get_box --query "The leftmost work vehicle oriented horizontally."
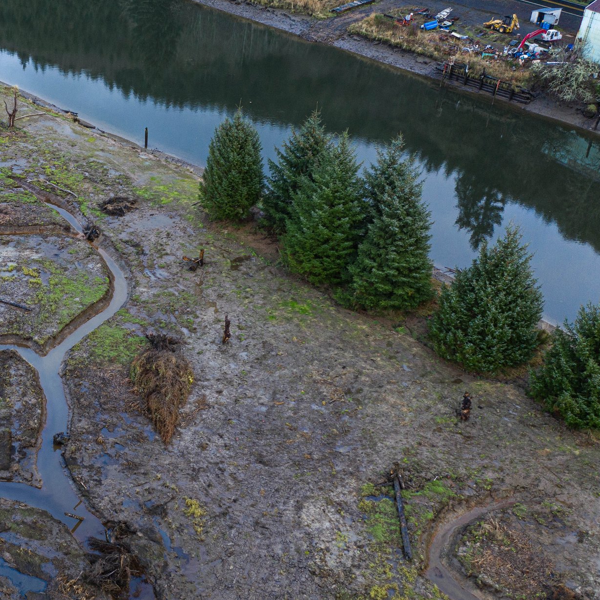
[476,6,529,30]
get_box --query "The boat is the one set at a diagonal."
[434,4,452,18]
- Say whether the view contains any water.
Yes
